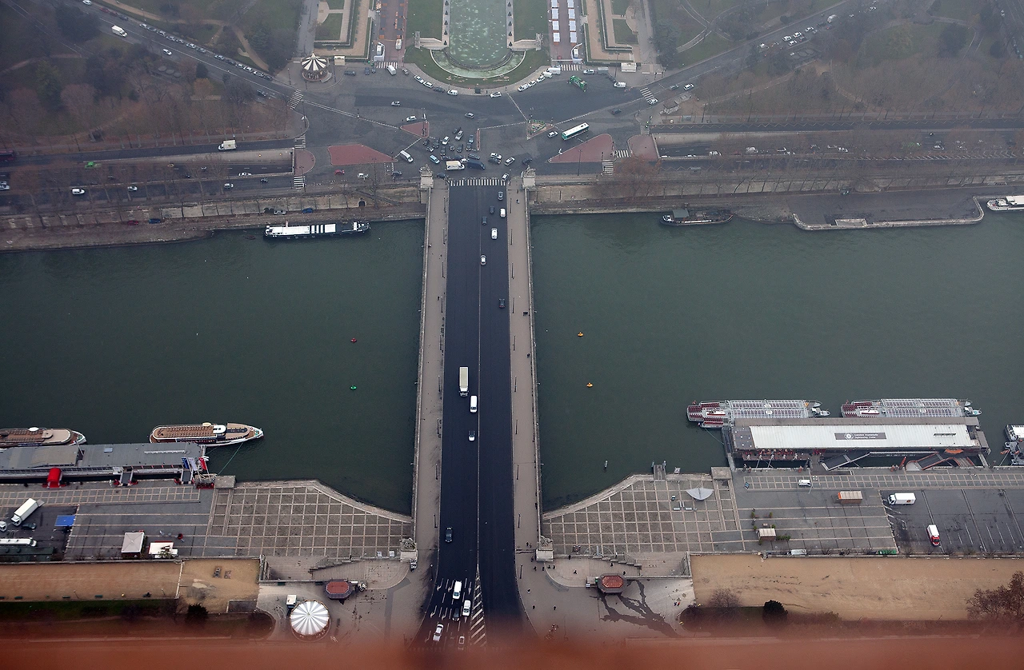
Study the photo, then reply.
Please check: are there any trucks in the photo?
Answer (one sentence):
Yes, the frame does contain a truck.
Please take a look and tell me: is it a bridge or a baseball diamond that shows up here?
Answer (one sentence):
This aerial view contains a bridge.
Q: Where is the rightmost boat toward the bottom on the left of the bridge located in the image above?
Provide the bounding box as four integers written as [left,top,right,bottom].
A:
[149,420,265,449]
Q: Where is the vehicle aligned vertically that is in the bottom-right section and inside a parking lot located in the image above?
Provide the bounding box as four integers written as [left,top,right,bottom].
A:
[926,517,945,549]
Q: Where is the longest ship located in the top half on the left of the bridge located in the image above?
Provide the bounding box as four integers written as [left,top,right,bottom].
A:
[262,220,371,242]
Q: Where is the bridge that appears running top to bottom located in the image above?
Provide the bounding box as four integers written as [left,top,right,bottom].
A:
[409,185,545,625]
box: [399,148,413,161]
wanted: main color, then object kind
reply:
white vehicle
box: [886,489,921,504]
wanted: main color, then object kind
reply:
white vehicle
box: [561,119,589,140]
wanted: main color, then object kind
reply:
white bus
